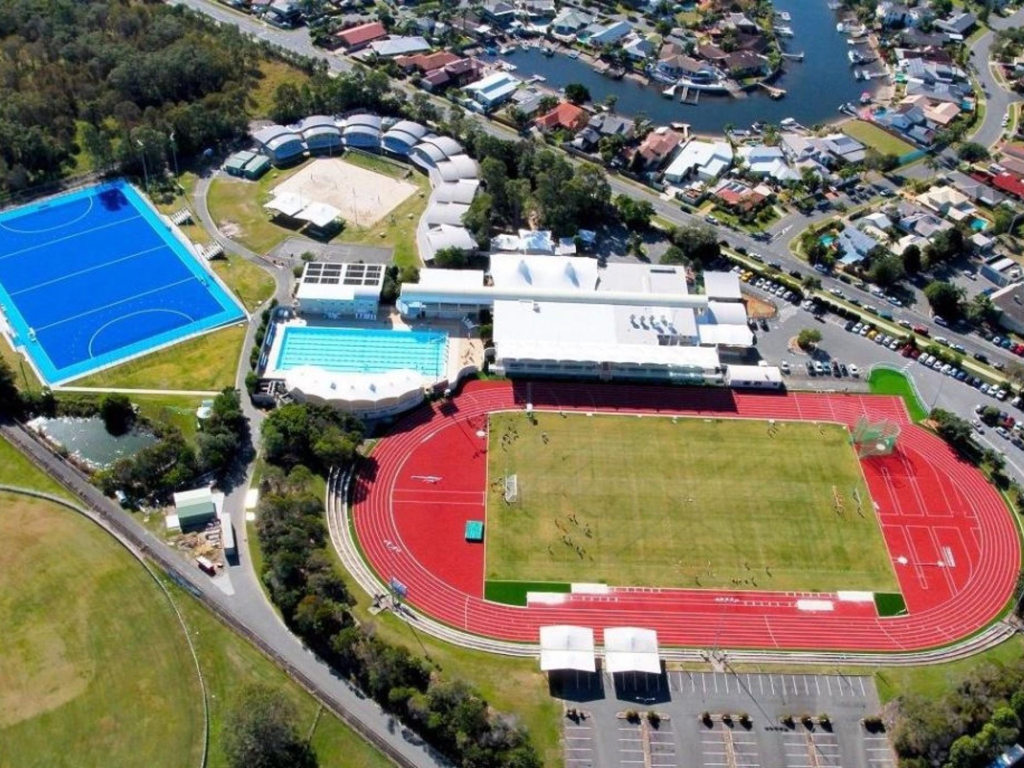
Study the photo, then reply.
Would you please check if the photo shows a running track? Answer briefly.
Yes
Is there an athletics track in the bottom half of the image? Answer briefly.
Yes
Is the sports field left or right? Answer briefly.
left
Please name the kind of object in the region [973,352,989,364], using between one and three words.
vehicle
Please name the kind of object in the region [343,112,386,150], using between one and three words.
building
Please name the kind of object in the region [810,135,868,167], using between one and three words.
house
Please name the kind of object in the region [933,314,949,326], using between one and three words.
vehicle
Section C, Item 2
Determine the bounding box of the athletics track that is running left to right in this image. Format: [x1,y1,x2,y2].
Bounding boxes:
[353,388,1022,651]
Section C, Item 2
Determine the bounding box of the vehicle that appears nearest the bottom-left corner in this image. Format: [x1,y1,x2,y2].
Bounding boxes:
[196,551,219,575]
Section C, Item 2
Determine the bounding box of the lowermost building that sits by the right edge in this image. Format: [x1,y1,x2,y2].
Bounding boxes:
[995,311,1024,360]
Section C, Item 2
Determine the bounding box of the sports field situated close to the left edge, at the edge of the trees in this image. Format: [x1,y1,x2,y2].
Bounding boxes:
[0,190,226,369]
